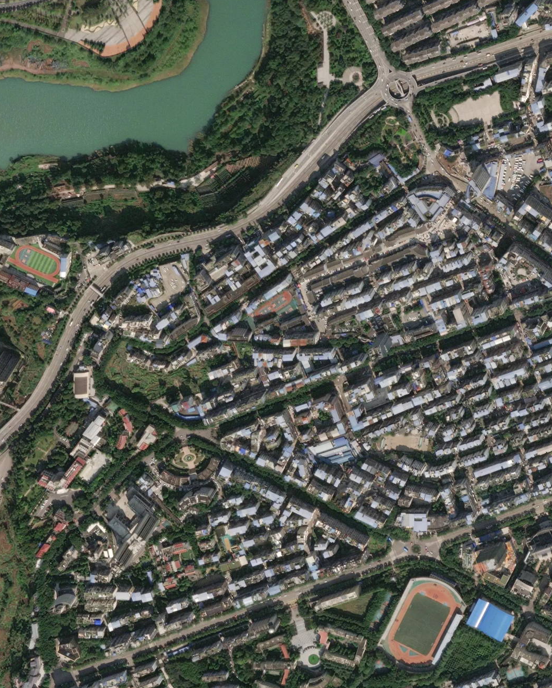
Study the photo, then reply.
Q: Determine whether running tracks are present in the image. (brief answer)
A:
Yes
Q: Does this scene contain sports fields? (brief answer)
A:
Yes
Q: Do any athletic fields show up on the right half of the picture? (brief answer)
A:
Yes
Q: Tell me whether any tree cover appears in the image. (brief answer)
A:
Yes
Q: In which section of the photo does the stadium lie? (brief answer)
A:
bottom right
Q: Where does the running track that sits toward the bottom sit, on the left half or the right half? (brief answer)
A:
right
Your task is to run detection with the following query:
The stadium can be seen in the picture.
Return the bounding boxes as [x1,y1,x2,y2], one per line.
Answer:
[379,577,465,669]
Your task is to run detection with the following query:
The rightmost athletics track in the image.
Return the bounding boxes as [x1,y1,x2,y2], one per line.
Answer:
[388,582,460,665]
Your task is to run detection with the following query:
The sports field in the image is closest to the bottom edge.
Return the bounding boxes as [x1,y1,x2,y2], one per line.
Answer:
[395,592,450,655]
